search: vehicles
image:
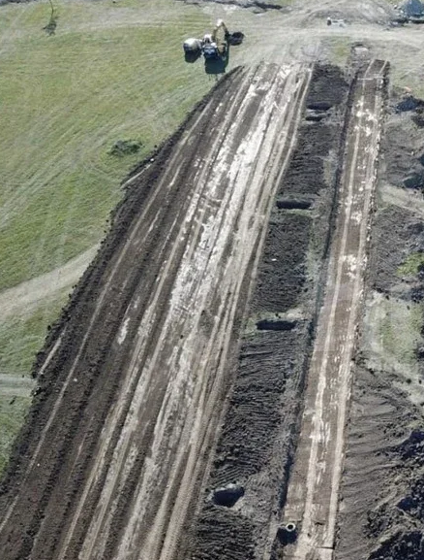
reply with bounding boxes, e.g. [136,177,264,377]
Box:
[199,13,238,57]
[180,36,207,51]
